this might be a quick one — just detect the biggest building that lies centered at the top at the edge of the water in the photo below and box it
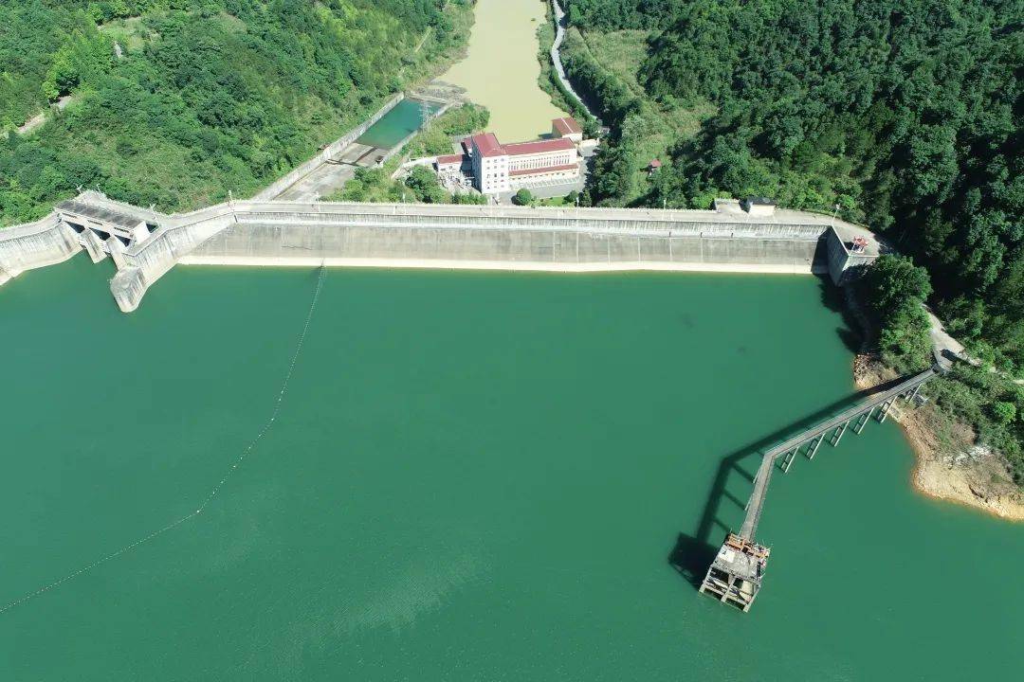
[472,132,586,193]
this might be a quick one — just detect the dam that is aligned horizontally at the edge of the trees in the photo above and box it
[0,187,882,311]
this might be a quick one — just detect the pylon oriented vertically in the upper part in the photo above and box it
[414,94,429,133]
